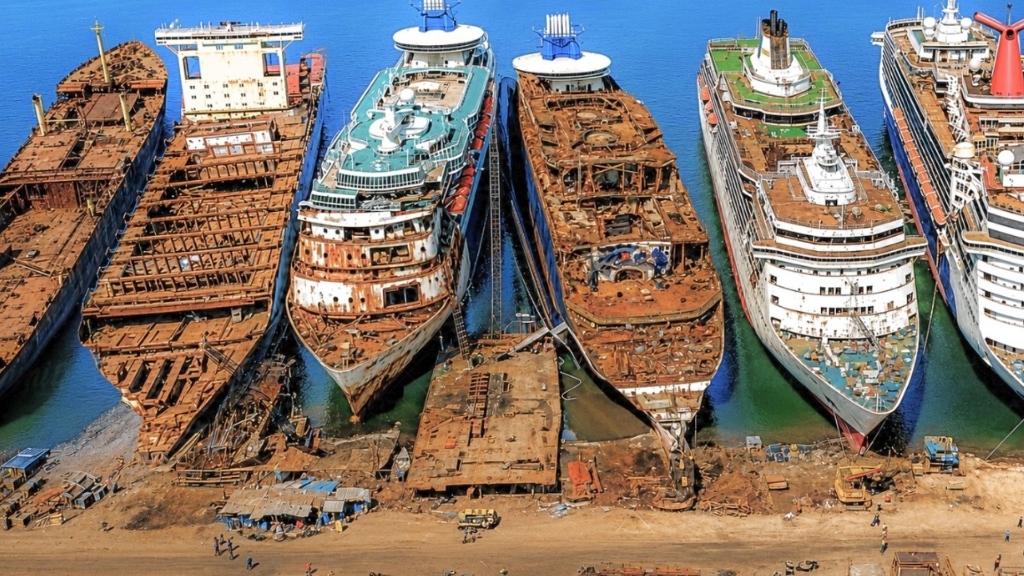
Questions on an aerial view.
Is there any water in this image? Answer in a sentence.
Yes, water shows up in the scene.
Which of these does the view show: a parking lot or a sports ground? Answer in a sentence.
This image shows a parking lot.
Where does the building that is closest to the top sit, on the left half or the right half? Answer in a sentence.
You can find the building that is closest to the top on the right side of the picture.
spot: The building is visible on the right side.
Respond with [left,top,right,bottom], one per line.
[745,431,767,456]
